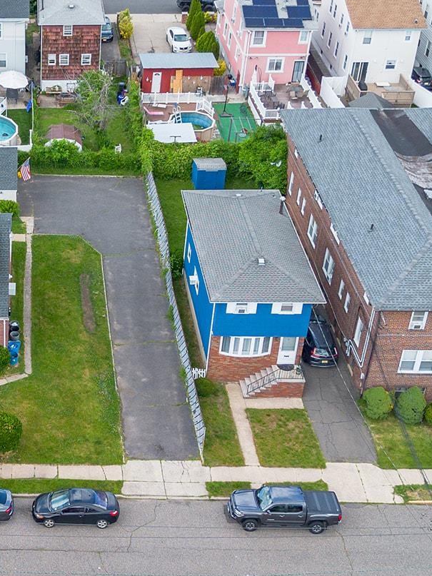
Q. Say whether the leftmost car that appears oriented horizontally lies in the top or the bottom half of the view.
bottom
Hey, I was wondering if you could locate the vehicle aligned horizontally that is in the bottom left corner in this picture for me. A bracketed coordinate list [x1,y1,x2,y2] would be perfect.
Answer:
[32,484,122,525]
